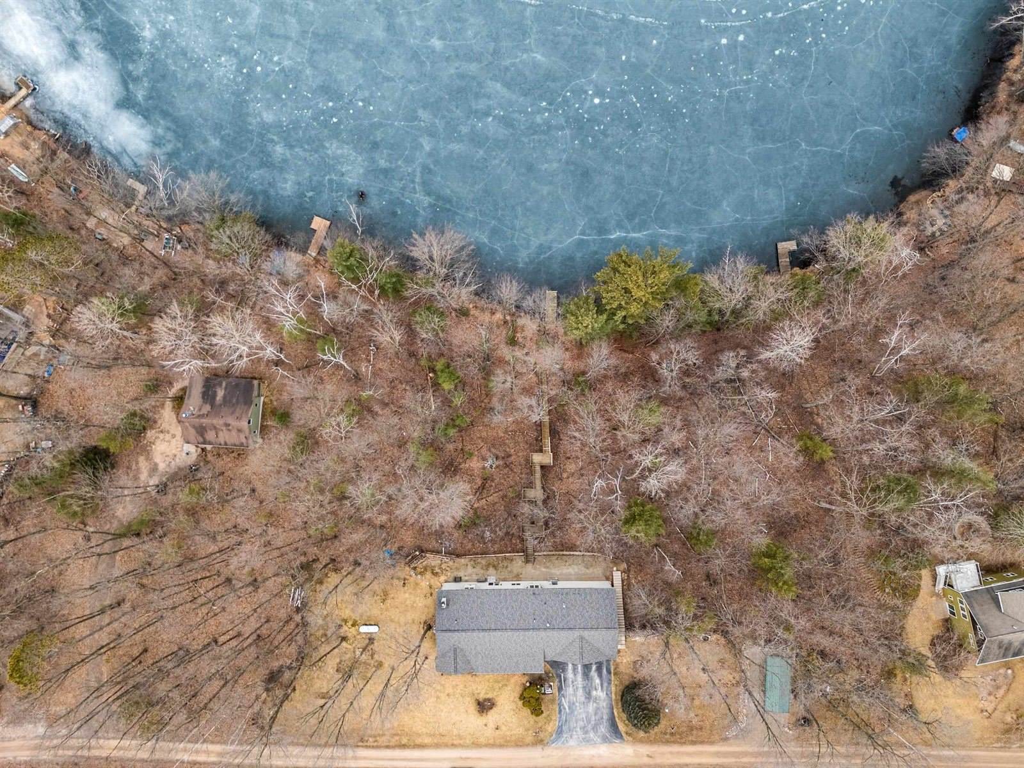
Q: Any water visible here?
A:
Yes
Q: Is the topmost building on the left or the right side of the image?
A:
left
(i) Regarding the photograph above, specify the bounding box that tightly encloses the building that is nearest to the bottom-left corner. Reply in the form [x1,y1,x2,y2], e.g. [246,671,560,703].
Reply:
[179,378,264,448]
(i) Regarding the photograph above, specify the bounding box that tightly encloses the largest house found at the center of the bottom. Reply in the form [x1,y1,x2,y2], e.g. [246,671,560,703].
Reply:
[435,579,620,678]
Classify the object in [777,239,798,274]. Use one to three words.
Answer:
pier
